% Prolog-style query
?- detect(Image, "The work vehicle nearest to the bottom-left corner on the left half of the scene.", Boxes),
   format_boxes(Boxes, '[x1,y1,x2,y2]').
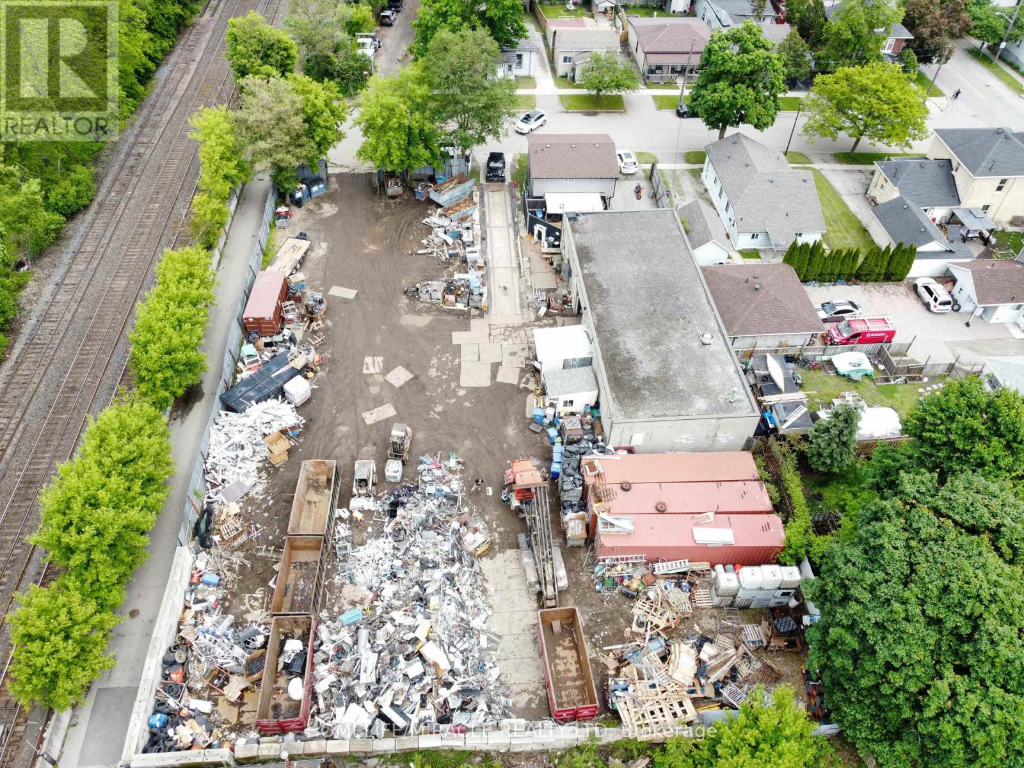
[344,459,378,516]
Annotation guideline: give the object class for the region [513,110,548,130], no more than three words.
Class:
car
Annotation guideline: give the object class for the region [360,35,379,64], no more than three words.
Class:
vehicle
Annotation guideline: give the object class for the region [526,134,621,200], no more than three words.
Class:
house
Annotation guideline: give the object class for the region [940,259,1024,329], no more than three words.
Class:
building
